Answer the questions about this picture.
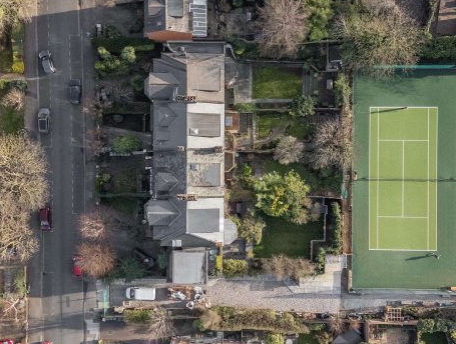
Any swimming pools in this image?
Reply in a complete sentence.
No, I find no swimming pool anywhere in the image.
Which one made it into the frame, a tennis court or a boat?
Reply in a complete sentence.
There is a tennis court in the scene.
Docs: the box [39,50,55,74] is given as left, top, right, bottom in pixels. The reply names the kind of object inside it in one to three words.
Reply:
car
